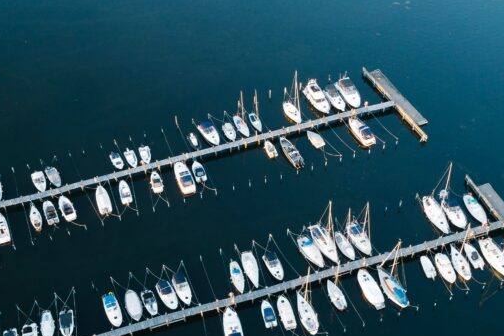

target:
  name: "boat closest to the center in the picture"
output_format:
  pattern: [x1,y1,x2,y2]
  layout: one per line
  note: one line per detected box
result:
[260,140,281,171]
